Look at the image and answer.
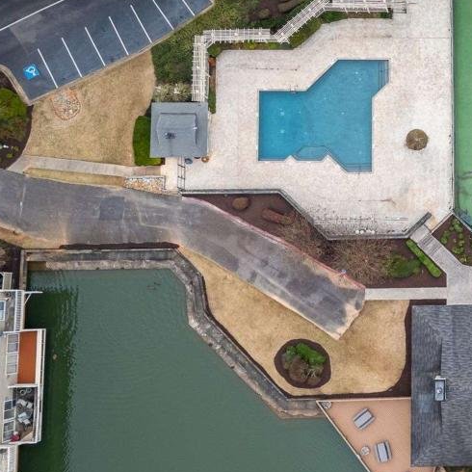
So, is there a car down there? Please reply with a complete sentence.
No, there is no car in the image.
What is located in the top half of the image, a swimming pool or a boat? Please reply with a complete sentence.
The one visible in the top half of the image is a swimming pool.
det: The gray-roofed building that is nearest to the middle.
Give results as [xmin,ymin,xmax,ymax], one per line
[149,103,213,159]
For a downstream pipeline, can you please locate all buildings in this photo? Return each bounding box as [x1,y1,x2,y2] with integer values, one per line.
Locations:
[149,103,213,159]
[410,303,472,469]
[0,289,50,472]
